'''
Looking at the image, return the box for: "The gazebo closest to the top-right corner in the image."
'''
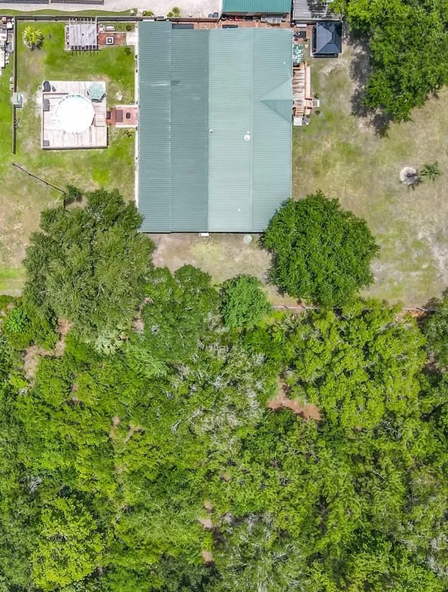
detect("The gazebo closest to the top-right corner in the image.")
[310,22,342,58]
